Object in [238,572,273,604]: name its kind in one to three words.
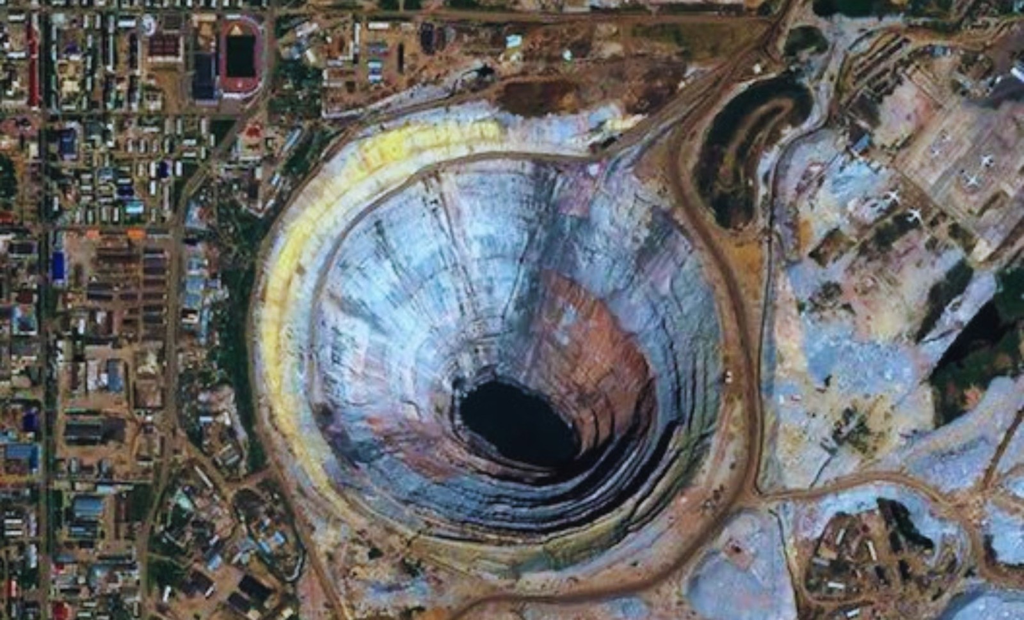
building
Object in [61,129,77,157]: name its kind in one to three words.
building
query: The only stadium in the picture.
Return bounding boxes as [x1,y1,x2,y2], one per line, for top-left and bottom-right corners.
[219,12,264,101]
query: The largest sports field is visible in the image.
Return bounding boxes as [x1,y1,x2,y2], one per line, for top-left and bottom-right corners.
[227,35,255,77]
